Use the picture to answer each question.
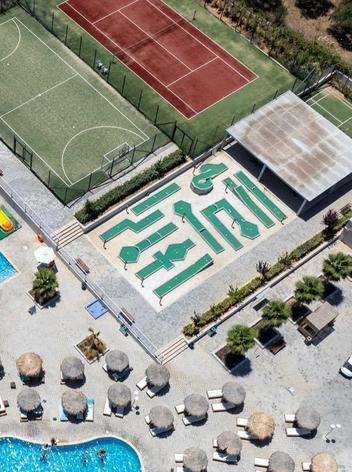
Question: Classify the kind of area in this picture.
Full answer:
This image shows a sports ground.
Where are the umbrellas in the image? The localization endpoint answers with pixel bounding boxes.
[182,395,209,421]
[105,385,132,410]
[180,449,208,472]
[215,432,242,459]
[62,394,87,418]
[144,367,171,392]
[34,246,54,270]
[291,409,318,434]
[266,456,293,472]
[17,355,44,381]
[148,409,174,434]
[244,414,274,442]
[16,391,42,415]
[59,359,84,383]
[219,384,246,409]
[103,352,130,377]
